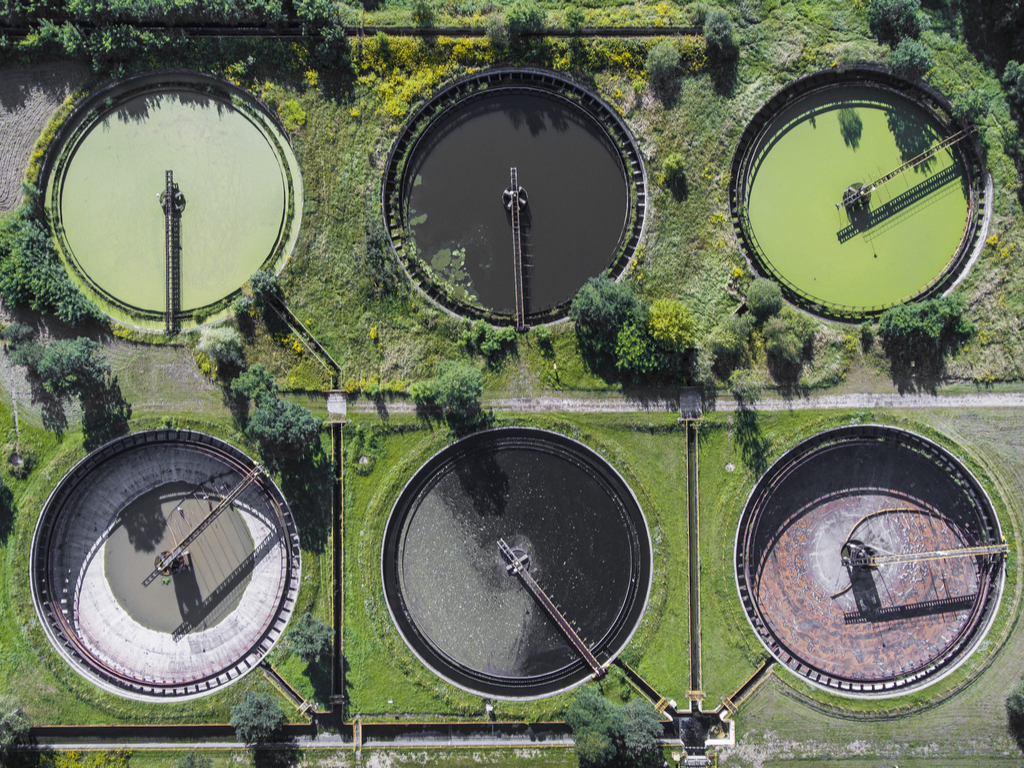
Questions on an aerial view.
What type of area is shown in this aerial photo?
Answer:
industrial area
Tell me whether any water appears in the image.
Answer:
Yes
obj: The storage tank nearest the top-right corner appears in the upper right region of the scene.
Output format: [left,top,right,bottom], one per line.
[729,64,992,326]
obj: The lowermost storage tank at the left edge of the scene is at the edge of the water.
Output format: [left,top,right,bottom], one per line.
[29,430,301,701]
